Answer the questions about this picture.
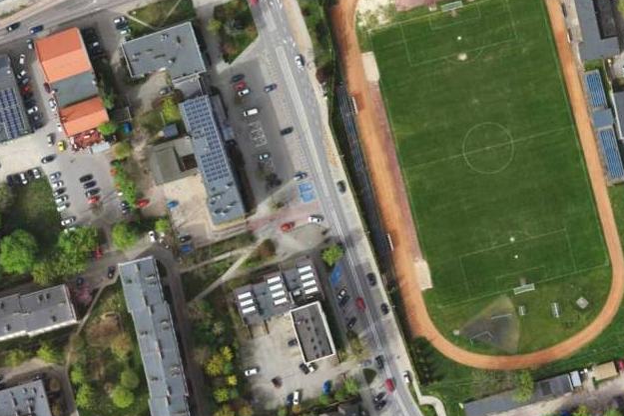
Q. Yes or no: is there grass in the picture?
Yes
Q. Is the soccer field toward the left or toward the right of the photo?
right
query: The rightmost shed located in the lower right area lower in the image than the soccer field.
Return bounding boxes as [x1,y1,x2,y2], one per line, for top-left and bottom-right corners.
[592,360,617,382]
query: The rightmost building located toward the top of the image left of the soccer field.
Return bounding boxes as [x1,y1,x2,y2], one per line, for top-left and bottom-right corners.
[177,94,246,228]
